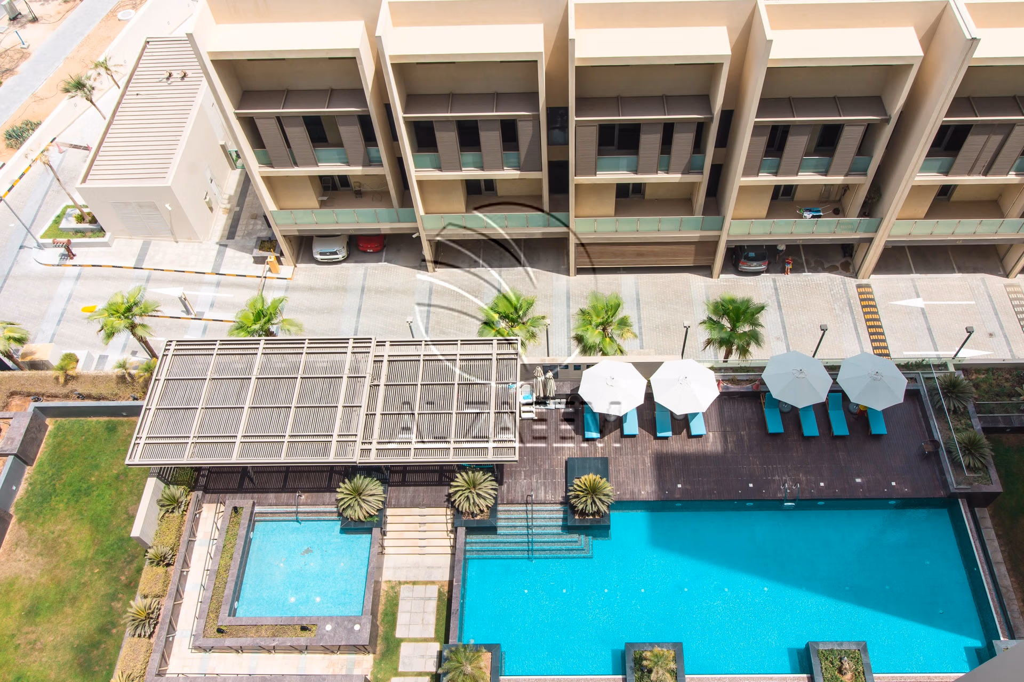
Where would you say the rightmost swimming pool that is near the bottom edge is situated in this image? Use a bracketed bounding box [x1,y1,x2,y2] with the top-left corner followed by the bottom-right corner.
[447,497,1011,682]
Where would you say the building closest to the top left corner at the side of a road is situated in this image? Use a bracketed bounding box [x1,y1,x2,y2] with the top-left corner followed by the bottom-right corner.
[77,35,233,242]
